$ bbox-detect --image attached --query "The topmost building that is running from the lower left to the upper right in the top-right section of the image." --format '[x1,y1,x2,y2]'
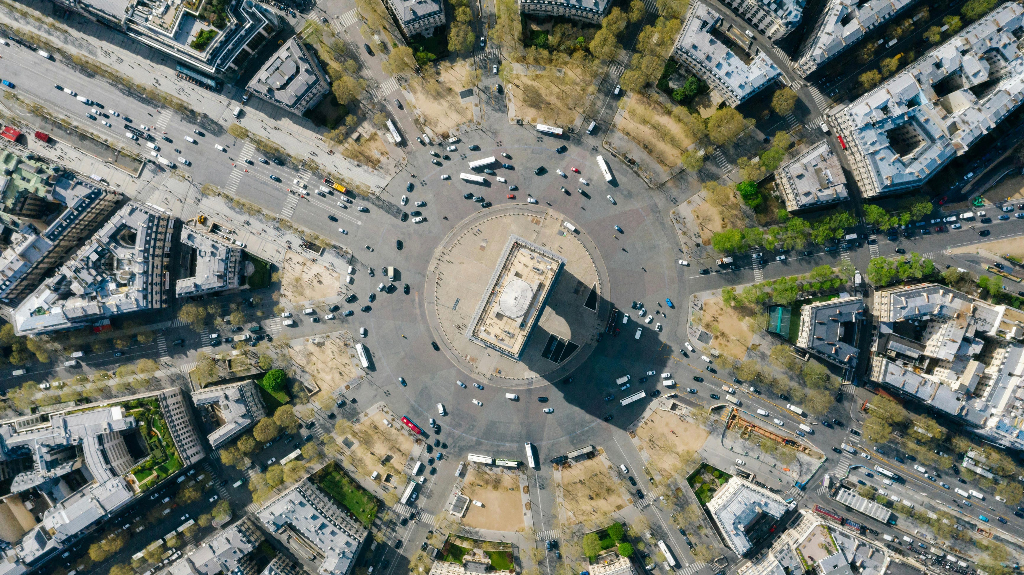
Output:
[795,0,915,75]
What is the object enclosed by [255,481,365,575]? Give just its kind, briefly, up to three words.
house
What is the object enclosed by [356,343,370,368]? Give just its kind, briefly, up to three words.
vehicle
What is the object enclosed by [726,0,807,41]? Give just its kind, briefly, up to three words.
building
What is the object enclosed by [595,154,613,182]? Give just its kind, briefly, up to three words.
vehicle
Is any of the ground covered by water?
No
